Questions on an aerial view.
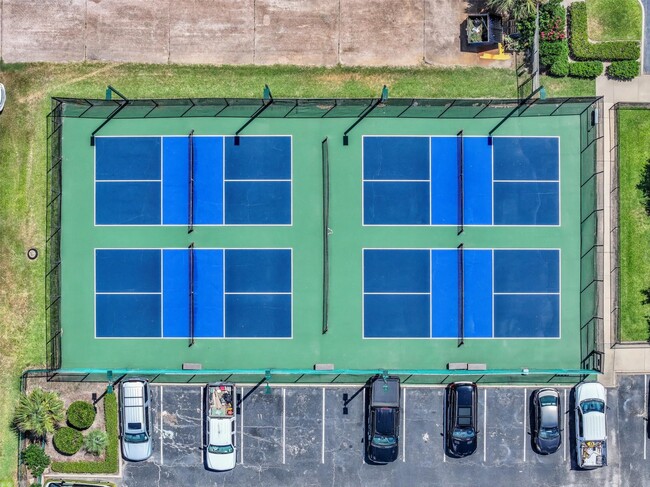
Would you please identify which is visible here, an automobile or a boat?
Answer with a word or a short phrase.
automobile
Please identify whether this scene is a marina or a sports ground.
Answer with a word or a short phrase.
sports ground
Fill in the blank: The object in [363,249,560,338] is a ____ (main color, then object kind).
blue sports court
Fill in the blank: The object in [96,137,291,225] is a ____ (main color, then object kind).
blue sports court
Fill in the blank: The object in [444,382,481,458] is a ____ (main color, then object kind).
black car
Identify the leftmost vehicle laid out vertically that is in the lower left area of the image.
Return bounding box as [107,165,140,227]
[117,379,154,461]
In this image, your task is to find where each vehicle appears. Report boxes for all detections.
[368,374,404,462]
[202,382,240,470]
[533,388,566,456]
[117,379,154,461]
[444,382,481,458]
[0,84,6,110]
[574,382,612,470]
